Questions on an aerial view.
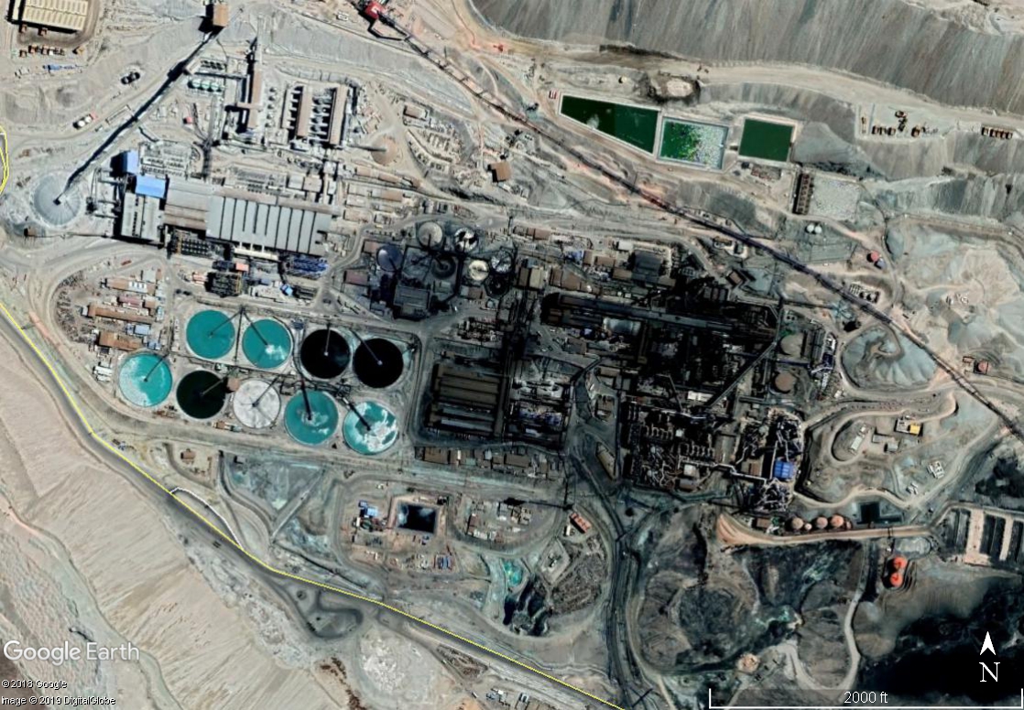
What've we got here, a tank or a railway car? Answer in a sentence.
There is a tank in the scene.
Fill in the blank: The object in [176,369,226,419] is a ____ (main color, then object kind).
black storage tank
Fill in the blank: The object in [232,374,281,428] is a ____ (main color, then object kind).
white storage tank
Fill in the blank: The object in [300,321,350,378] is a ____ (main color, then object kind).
black storage tank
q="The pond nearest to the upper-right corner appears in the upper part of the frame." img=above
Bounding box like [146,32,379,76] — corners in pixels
[737,118,796,163]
